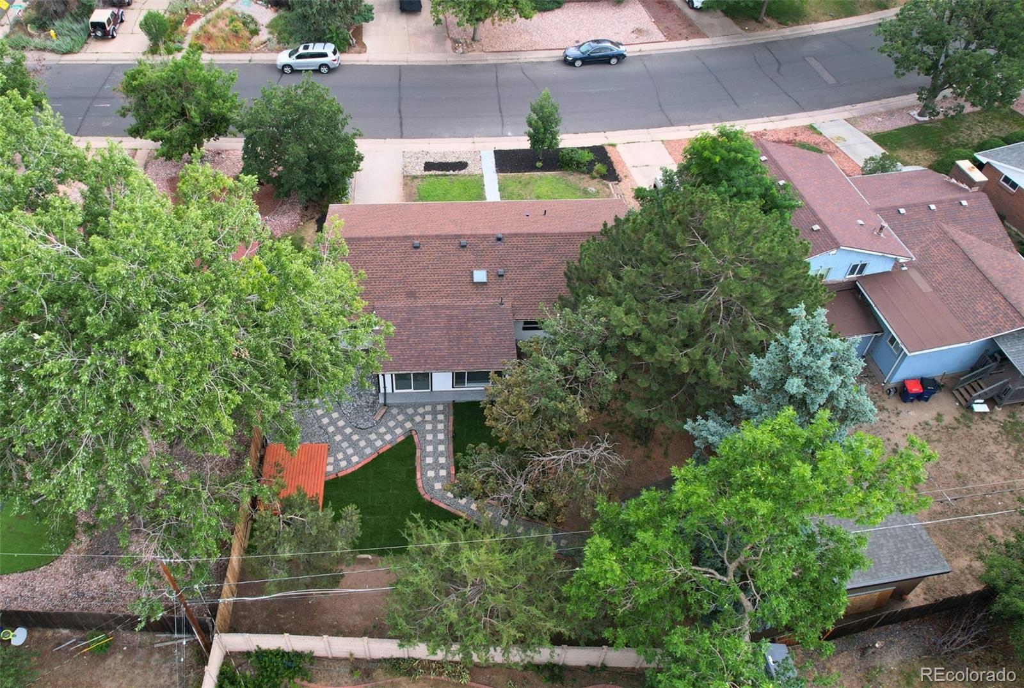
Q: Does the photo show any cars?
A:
Yes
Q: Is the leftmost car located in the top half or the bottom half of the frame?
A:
top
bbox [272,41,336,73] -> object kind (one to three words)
car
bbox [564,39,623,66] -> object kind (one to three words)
car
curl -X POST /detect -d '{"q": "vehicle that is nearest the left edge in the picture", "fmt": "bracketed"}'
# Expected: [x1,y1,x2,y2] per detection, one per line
[89,4,130,34]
